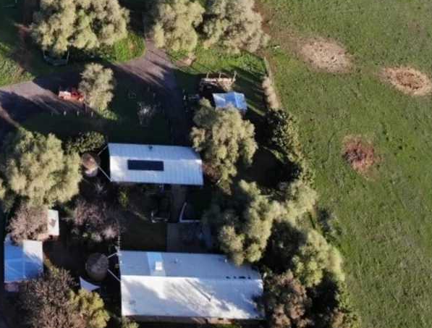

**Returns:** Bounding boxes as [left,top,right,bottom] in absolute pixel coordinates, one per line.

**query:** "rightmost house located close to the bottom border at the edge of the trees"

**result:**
[112,245,267,327]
